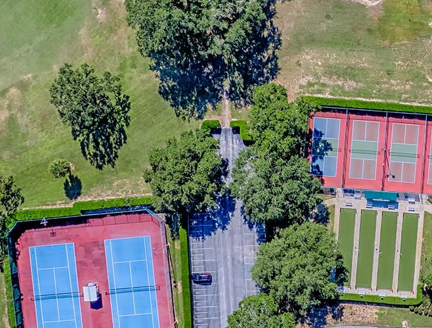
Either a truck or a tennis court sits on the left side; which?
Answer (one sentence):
Looking on the left side, you will find a tennis court.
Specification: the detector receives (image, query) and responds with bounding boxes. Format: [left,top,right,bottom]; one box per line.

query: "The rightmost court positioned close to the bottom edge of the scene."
[103,234,160,328]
